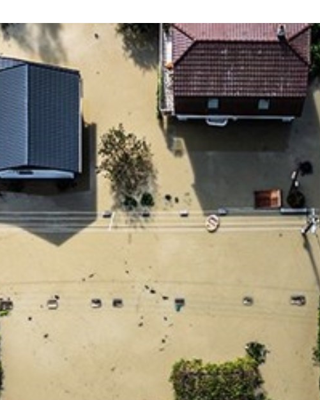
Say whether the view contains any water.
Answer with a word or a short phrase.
Yes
